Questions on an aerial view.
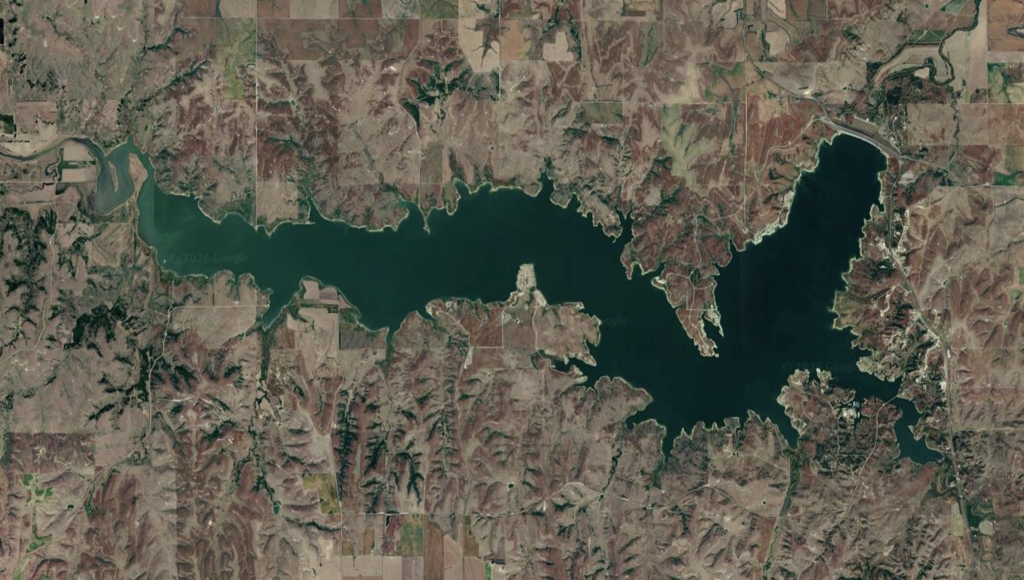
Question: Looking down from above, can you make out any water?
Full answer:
Yes, some water is visible.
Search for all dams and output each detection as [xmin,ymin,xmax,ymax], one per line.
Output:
[827,113,902,157]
